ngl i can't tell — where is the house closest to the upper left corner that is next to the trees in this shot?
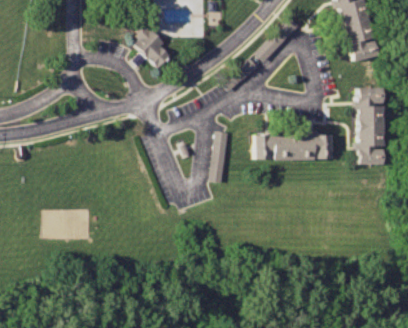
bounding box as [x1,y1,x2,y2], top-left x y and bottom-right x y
[130,27,171,70]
